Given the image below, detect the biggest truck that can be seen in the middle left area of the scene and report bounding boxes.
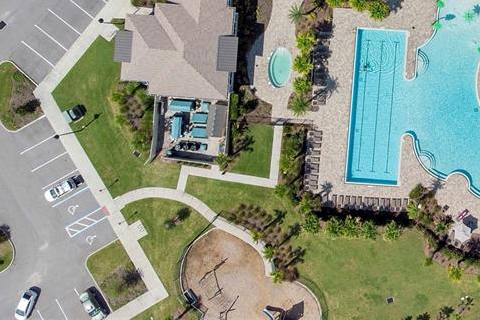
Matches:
[43,175,86,203]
